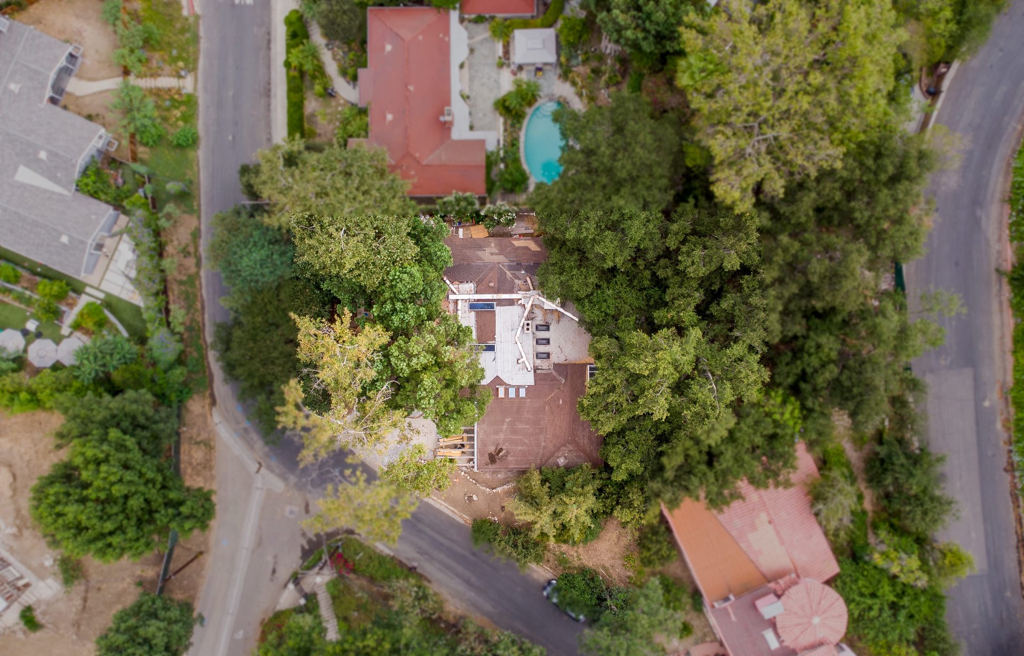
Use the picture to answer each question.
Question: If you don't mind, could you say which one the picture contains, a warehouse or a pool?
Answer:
pool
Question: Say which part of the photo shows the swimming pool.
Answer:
top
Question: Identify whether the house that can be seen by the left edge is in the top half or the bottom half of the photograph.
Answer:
top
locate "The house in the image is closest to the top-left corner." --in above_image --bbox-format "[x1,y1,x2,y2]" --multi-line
[0,15,127,278]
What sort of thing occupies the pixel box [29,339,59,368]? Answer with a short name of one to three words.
umbrella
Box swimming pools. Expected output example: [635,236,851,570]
[520,96,578,188]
